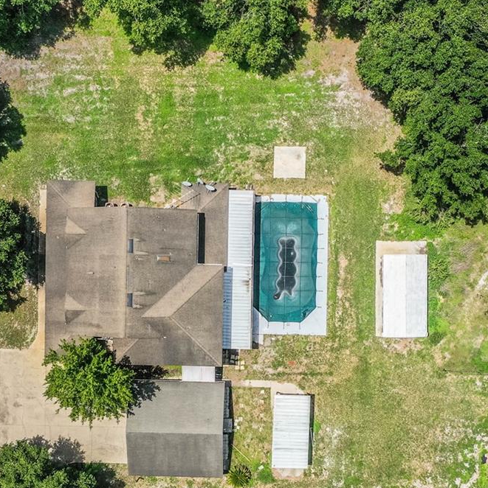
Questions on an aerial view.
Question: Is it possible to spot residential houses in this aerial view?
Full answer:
Yes, the image includes a residential house.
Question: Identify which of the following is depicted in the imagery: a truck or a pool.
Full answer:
Of the two, only a pool appears.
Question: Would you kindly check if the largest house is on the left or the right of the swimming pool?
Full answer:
Relative to the swimming pool, the largest house is on the left.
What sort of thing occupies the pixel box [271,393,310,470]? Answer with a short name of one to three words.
shed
